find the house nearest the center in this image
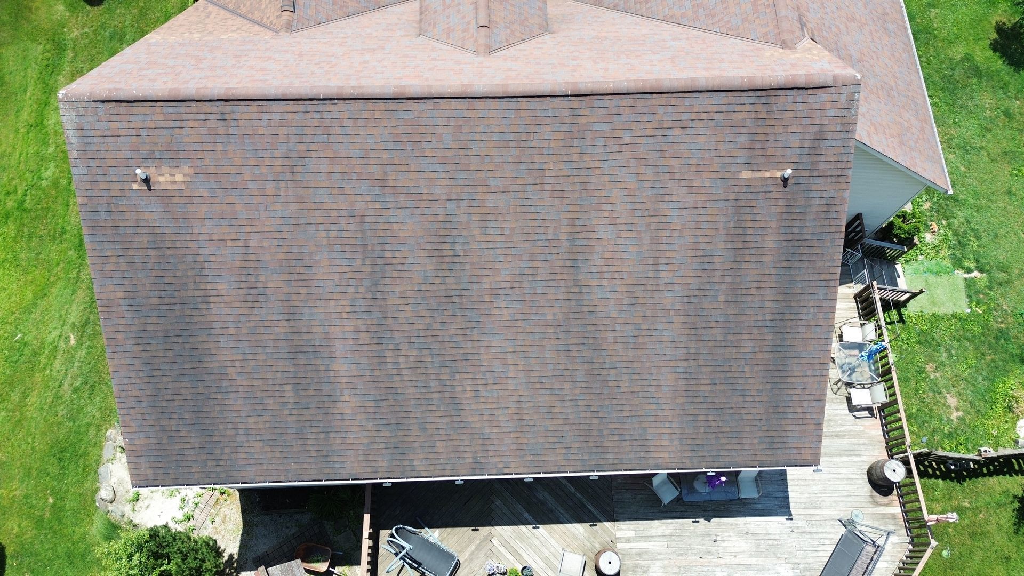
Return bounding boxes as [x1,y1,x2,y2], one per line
[58,0,953,494]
